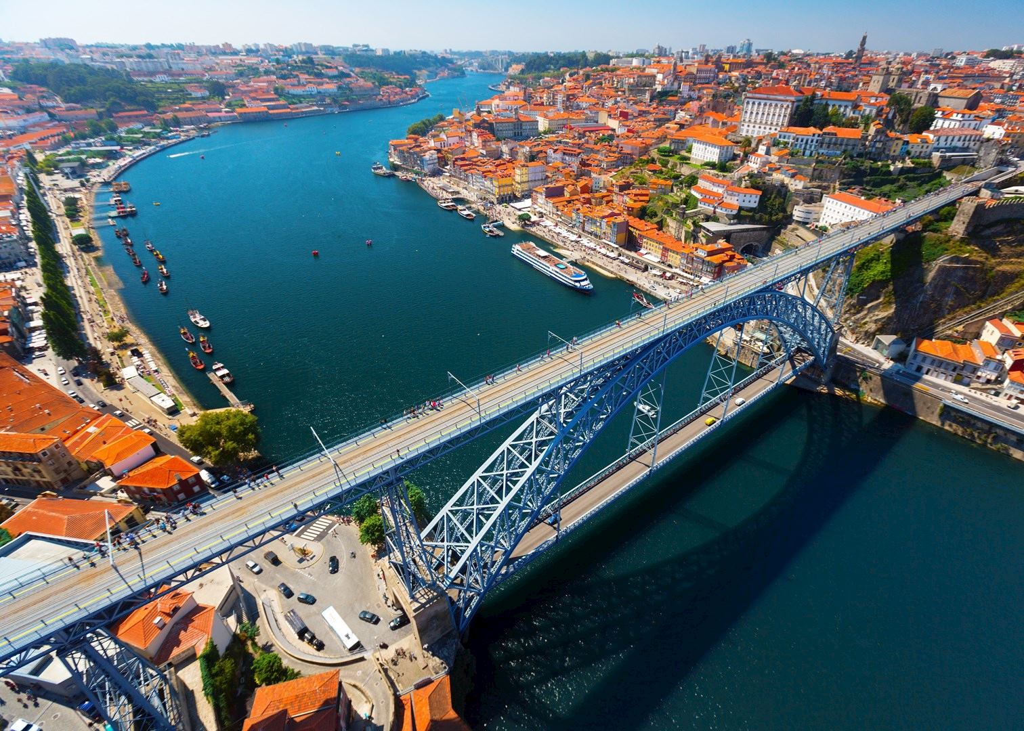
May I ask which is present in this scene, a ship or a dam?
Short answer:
ship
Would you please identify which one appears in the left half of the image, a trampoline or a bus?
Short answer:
bus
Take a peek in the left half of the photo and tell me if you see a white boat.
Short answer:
Yes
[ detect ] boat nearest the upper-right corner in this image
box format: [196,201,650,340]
[631,292,652,308]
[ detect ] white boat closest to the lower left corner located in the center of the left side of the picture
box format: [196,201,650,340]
[211,359,231,382]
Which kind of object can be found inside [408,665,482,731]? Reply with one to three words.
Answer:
house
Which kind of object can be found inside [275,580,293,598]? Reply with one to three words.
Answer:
car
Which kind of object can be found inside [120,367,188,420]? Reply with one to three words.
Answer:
building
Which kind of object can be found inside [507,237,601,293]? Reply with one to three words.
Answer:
ship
